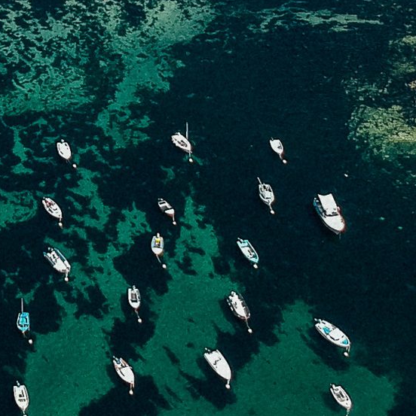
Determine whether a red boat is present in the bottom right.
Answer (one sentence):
No, the scene shows no red boat in the bottom right.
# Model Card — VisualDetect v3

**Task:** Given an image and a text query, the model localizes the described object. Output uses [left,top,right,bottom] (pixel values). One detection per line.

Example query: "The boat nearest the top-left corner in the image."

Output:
[56,136,73,164]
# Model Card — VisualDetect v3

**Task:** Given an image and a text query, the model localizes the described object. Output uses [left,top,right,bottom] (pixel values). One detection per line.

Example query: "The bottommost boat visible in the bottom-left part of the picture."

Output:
[12,379,31,415]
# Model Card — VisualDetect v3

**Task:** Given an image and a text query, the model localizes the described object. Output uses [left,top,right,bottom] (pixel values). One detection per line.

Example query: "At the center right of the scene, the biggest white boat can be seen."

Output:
[311,185,343,237]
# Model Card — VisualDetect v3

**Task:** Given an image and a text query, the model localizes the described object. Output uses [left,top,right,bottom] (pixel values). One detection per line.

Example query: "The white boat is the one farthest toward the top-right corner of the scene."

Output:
[267,135,284,161]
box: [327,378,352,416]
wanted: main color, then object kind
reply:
white boat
